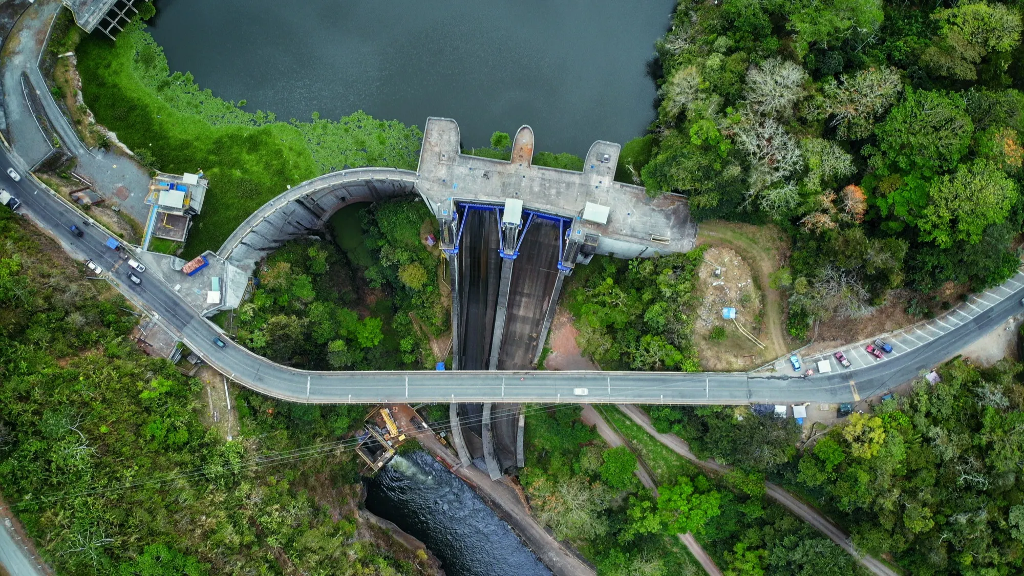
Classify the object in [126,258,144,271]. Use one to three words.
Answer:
vehicle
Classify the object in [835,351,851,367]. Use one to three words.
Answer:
vehicle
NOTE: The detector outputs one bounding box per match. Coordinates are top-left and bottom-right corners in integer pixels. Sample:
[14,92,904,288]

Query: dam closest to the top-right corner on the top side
[416,116,697,276]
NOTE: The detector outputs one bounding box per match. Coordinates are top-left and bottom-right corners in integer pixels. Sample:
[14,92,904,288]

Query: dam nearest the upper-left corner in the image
[216,166,420,259]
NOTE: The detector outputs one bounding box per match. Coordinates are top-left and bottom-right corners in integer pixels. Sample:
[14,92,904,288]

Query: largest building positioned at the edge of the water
[143,169,209,216]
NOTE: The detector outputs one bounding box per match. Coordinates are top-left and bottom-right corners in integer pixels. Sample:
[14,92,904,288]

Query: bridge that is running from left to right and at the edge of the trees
[184,317,751,408]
